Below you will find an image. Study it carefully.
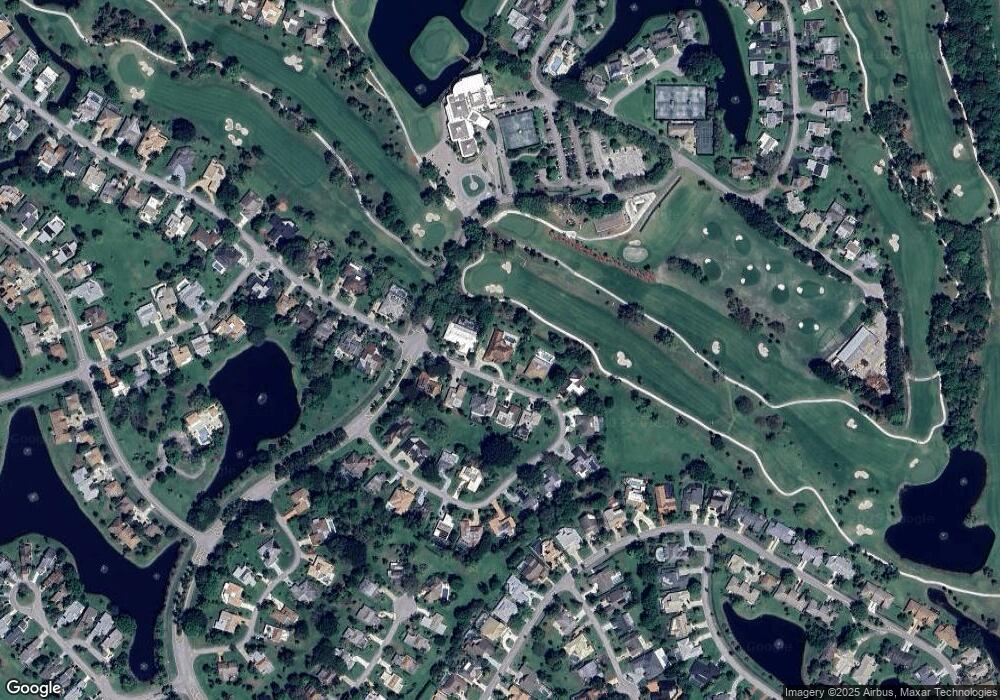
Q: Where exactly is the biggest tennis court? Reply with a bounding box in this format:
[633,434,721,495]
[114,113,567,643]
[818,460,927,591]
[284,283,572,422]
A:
[654,84,706,120]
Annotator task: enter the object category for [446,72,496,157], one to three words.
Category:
building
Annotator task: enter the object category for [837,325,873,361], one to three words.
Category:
shed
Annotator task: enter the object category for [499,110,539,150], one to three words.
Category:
tennis court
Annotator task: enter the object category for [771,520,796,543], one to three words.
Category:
house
